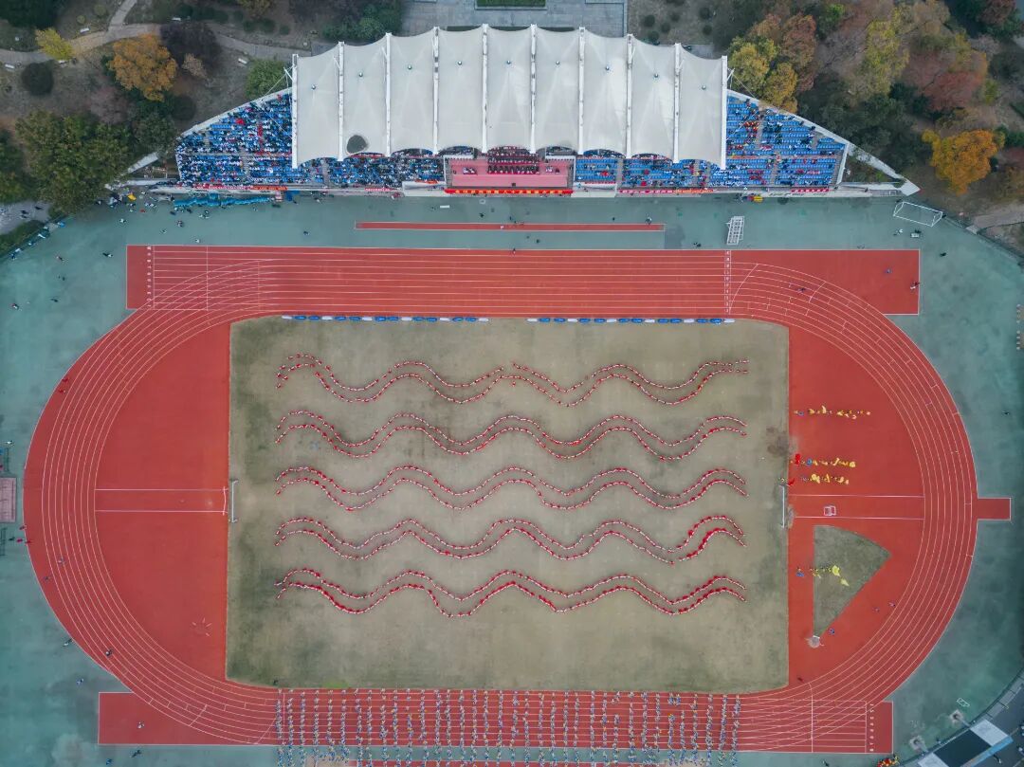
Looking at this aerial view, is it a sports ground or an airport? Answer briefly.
sports ground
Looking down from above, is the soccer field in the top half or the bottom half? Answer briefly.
bottom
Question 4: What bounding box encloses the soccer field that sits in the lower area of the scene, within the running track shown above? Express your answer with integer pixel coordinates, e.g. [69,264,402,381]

[226,315,790,693]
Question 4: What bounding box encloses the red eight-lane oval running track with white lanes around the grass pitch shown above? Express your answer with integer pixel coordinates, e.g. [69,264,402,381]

[24,245,1011,751]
